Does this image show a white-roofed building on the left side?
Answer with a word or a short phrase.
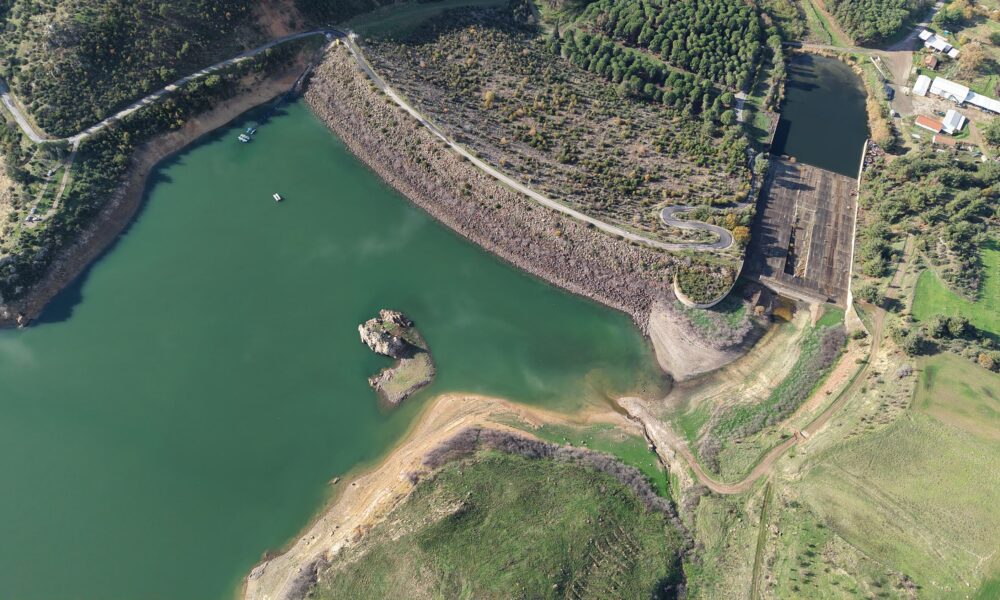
No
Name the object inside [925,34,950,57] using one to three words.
house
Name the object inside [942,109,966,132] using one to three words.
building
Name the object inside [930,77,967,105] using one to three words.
barn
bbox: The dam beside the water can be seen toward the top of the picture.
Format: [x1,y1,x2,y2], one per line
[297,26,745,344]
